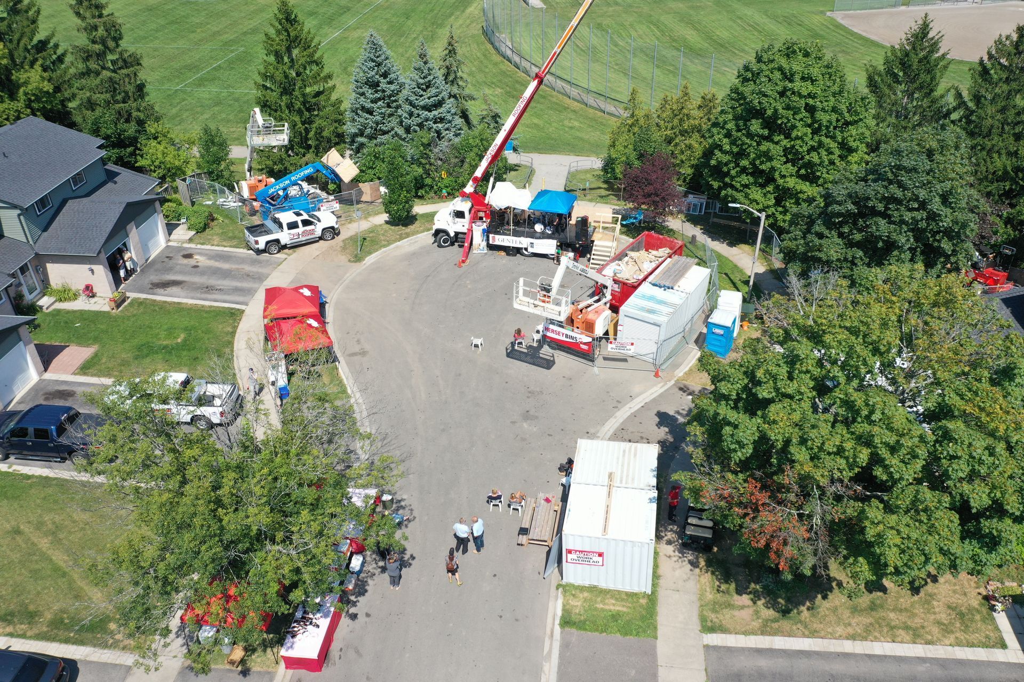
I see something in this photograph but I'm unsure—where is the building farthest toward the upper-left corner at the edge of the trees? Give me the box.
[0,114,178,318]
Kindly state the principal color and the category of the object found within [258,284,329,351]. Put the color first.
red tent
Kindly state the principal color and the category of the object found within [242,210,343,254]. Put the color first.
white truck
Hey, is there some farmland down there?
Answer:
No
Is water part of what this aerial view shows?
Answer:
No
